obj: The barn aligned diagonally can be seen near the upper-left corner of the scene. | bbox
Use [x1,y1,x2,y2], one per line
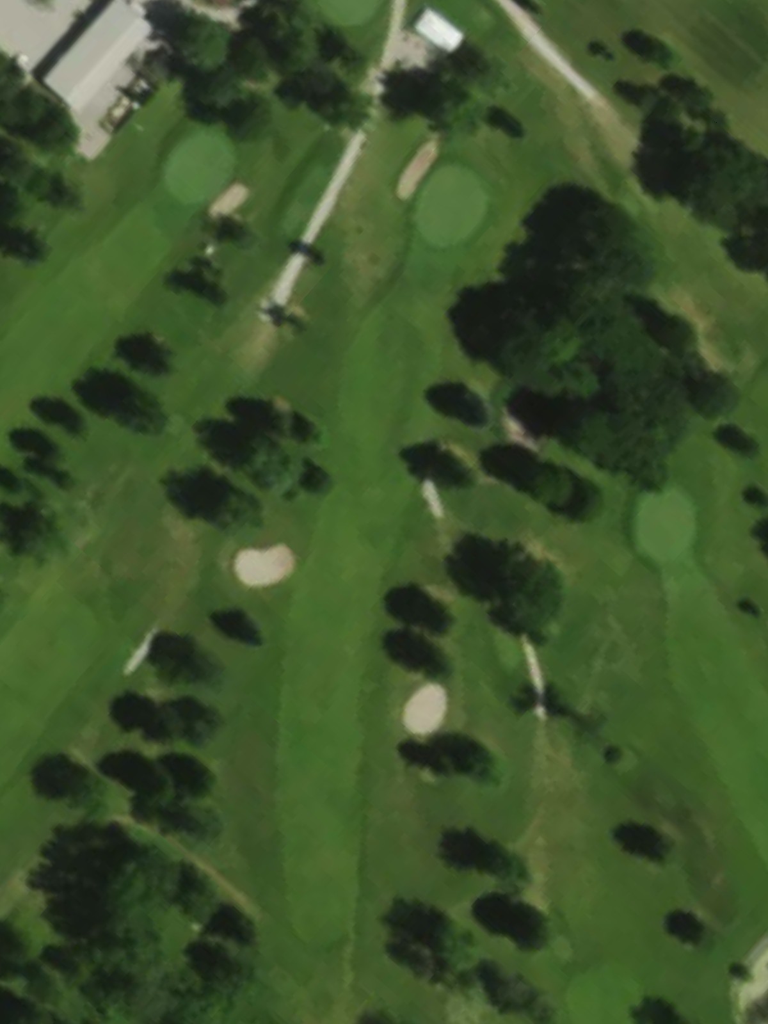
[40,0,151,111]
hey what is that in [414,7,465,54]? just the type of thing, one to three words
shed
